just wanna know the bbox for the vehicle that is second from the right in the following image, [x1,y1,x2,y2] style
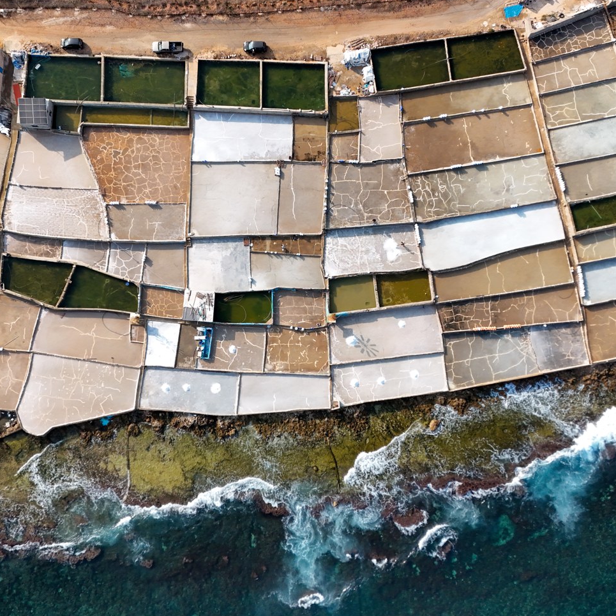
[149,37,185,54]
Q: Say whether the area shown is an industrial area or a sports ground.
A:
industrial area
